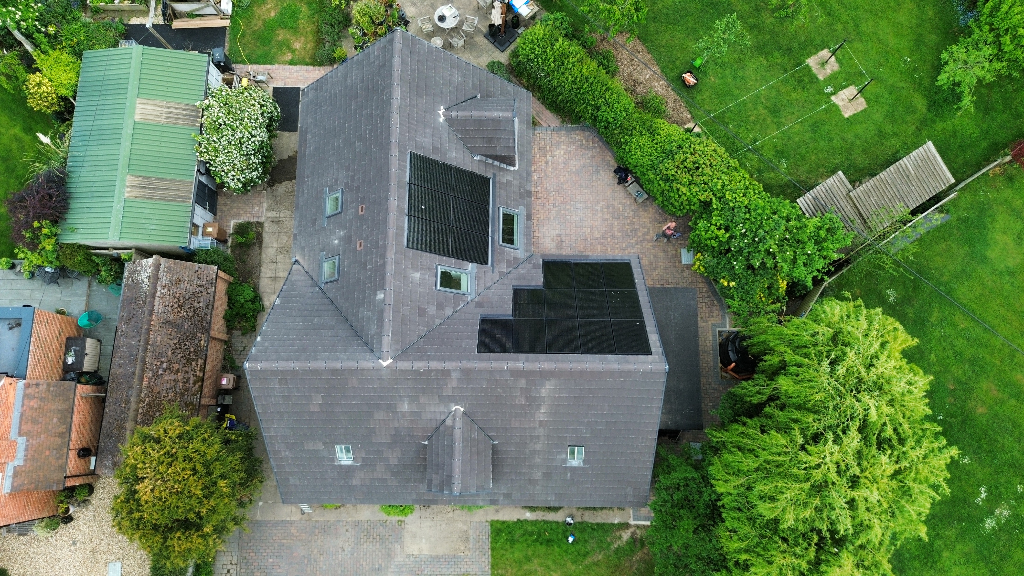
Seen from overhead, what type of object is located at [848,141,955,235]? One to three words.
shed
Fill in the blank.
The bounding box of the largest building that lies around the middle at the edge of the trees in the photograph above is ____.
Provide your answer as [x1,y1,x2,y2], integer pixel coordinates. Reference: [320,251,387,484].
[240,26,673,507]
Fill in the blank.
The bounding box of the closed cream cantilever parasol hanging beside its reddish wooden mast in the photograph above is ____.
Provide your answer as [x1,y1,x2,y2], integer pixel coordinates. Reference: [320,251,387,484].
[486,0,519,53]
